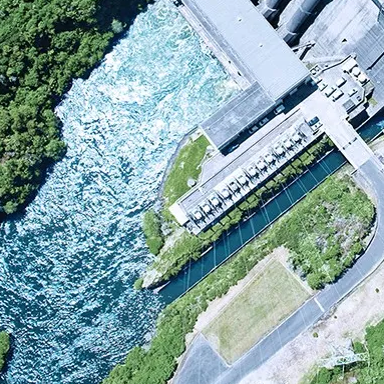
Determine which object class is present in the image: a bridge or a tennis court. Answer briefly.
bridge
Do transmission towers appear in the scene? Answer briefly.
Yes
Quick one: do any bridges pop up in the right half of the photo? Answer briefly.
Yes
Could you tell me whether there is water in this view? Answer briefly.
Yes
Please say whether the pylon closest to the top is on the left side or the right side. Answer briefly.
right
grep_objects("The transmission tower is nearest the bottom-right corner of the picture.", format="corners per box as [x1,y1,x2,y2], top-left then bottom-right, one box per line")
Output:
[311,335,360,376]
